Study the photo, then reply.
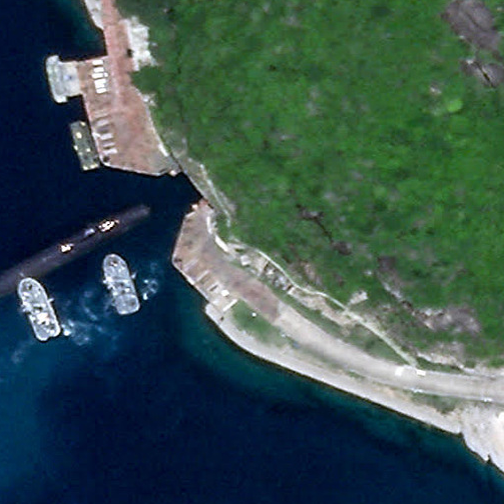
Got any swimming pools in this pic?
No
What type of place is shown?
port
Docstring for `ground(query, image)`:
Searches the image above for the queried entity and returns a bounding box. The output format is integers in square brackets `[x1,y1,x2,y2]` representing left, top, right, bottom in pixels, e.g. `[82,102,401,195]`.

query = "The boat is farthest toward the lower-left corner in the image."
[22,278,61,342]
